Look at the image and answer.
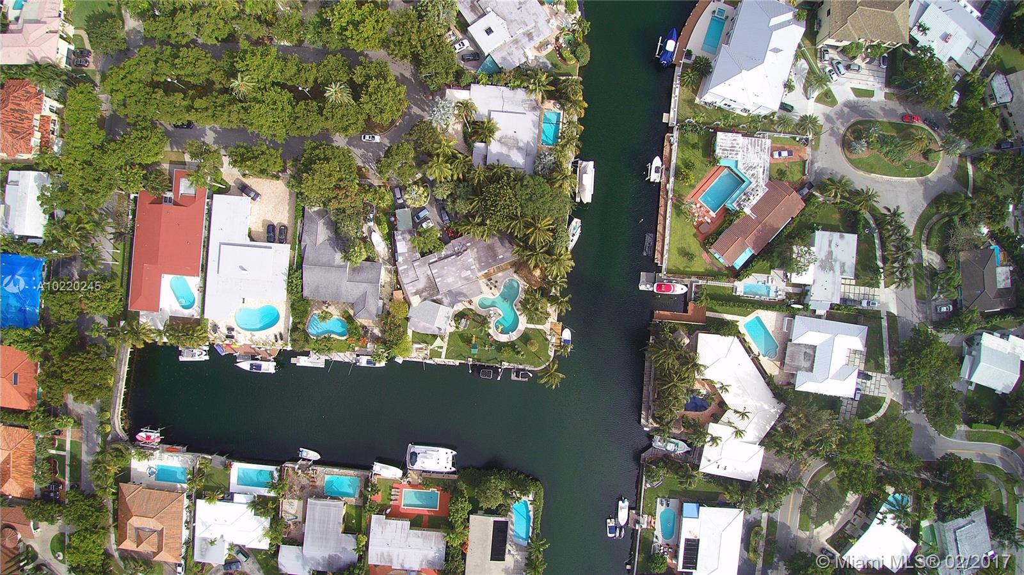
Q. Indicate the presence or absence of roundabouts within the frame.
Yes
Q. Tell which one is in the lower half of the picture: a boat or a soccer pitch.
boat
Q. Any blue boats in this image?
Yes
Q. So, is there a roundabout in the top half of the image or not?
Yes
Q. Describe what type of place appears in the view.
residential area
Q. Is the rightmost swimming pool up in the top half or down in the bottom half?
bottom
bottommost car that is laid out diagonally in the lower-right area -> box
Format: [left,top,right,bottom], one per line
[818,545,838,561]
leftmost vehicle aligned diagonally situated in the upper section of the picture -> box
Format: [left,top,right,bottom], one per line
[238,181,260,200]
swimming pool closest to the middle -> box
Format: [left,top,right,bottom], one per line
[477,275,522,336]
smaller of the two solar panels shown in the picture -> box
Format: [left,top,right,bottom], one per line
[682,538,699,569]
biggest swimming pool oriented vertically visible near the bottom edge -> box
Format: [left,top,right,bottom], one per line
[511,498,532,547]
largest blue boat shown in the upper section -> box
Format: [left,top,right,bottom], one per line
[656,29,676,69]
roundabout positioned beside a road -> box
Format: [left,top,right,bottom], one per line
[844,122,941,176]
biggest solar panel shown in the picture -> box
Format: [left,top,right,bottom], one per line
[489,520,509,562]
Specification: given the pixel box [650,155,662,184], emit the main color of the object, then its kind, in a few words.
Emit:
white boat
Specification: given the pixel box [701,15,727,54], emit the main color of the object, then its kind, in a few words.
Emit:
blue swimming pool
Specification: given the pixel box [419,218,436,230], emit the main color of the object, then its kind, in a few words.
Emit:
white vehicle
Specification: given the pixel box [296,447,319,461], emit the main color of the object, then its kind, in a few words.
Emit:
white boat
